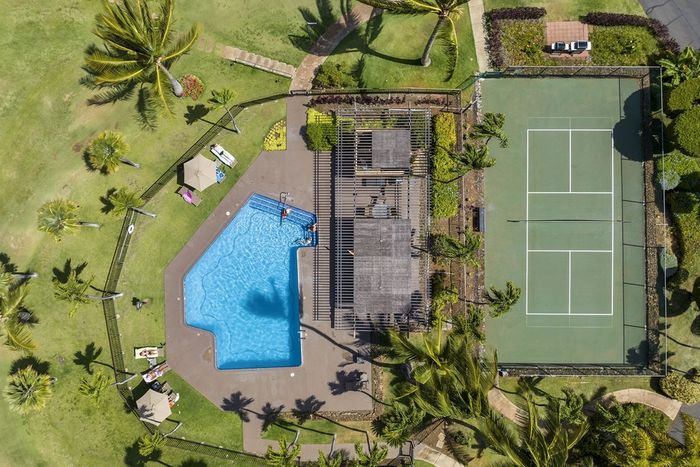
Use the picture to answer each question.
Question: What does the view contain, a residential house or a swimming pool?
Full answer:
There is a swimming pool in the scene.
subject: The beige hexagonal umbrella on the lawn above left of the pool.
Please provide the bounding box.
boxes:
[184,154,217,191]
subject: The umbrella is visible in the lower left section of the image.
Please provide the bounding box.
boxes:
[136,388,172,426]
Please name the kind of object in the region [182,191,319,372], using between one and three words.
swimming pool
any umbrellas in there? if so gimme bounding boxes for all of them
[184,154,217,191]
[136,388,172,426]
